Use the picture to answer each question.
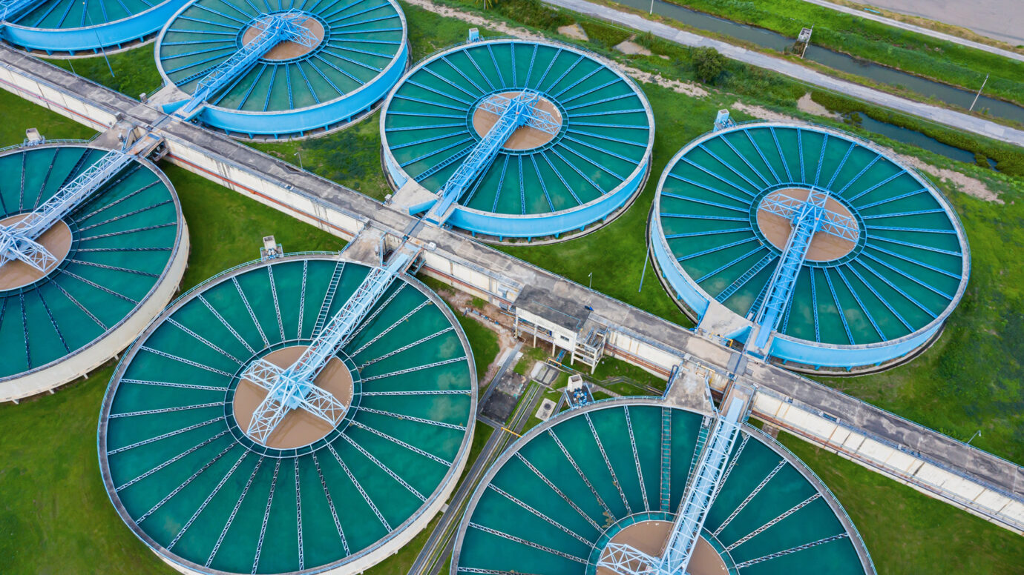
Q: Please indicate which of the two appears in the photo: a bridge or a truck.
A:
bridge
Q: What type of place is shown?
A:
industrial area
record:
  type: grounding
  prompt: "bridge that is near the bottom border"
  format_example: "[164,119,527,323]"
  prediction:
[595,398,745,575]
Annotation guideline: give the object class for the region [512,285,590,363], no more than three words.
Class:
building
